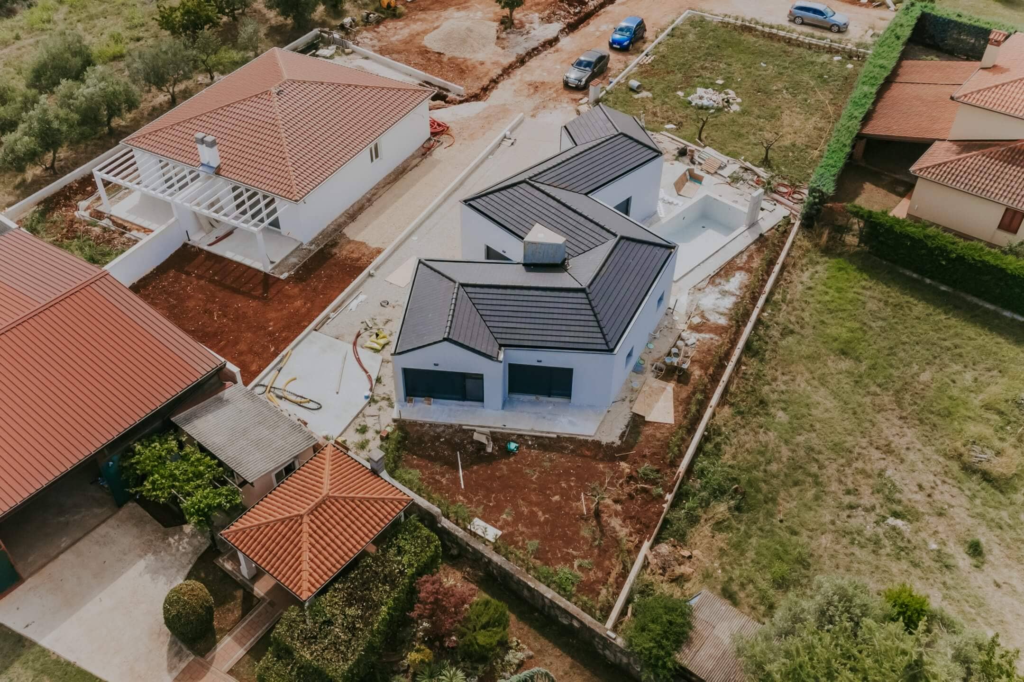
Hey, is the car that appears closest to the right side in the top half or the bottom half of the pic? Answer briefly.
top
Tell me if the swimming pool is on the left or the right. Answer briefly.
right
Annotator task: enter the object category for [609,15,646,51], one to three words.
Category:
car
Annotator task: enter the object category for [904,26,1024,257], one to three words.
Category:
house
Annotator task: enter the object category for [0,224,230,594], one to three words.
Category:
shed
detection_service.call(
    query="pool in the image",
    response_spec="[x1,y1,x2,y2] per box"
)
[646,188,756,281]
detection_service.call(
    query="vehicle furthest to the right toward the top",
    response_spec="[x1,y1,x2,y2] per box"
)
[790,0,853,32]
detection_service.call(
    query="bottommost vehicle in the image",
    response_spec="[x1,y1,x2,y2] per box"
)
[565,49,610,88]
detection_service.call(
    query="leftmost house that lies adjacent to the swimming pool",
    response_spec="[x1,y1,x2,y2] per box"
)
[389,103,681,410]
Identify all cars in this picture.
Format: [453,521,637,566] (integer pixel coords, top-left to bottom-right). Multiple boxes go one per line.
[790,0,853,32]
[609,15,646,51]
[565,49,610,88]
